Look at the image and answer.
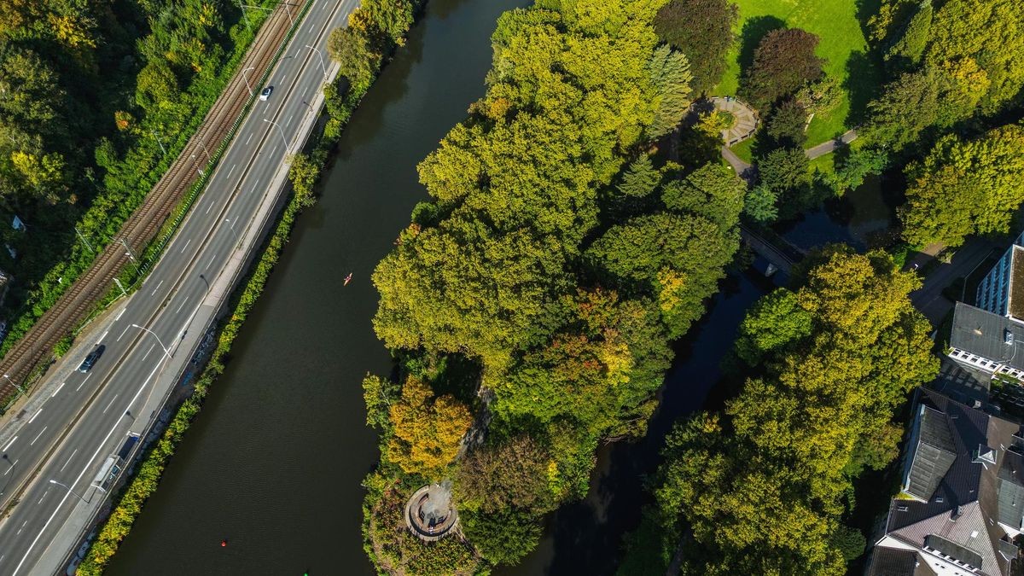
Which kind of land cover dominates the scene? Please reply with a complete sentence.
For the most part, this view shows trees.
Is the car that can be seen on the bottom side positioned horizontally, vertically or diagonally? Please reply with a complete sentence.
I'd say the car that can be seen on the bottom side is aligned diagonally in the picture.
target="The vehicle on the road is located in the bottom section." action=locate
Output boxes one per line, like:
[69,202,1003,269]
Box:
[80,348,101,370]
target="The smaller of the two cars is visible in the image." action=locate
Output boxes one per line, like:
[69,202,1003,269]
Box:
[261,87,273,99]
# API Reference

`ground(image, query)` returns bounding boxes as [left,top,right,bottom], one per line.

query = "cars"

[80,348,101,370]
[261,87,273,99]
